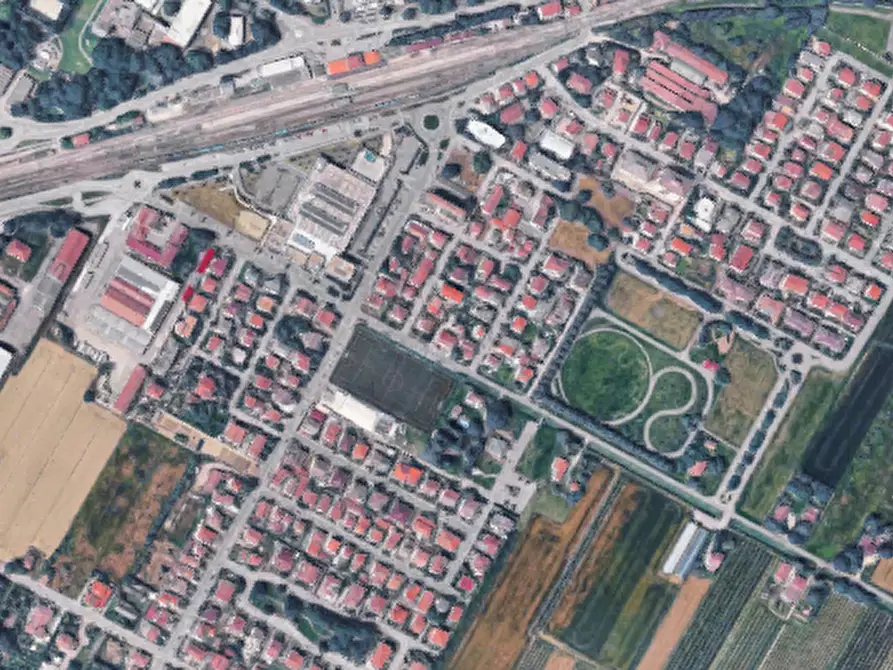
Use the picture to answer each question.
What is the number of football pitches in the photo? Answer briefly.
1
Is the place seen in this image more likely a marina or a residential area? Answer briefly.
residential area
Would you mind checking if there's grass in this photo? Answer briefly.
Yes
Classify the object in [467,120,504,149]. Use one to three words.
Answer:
building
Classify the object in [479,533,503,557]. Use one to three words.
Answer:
house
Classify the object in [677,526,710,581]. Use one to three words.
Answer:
greenhouse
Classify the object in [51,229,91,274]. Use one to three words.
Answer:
barn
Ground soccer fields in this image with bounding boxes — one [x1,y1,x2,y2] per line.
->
[331,323,453,430]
